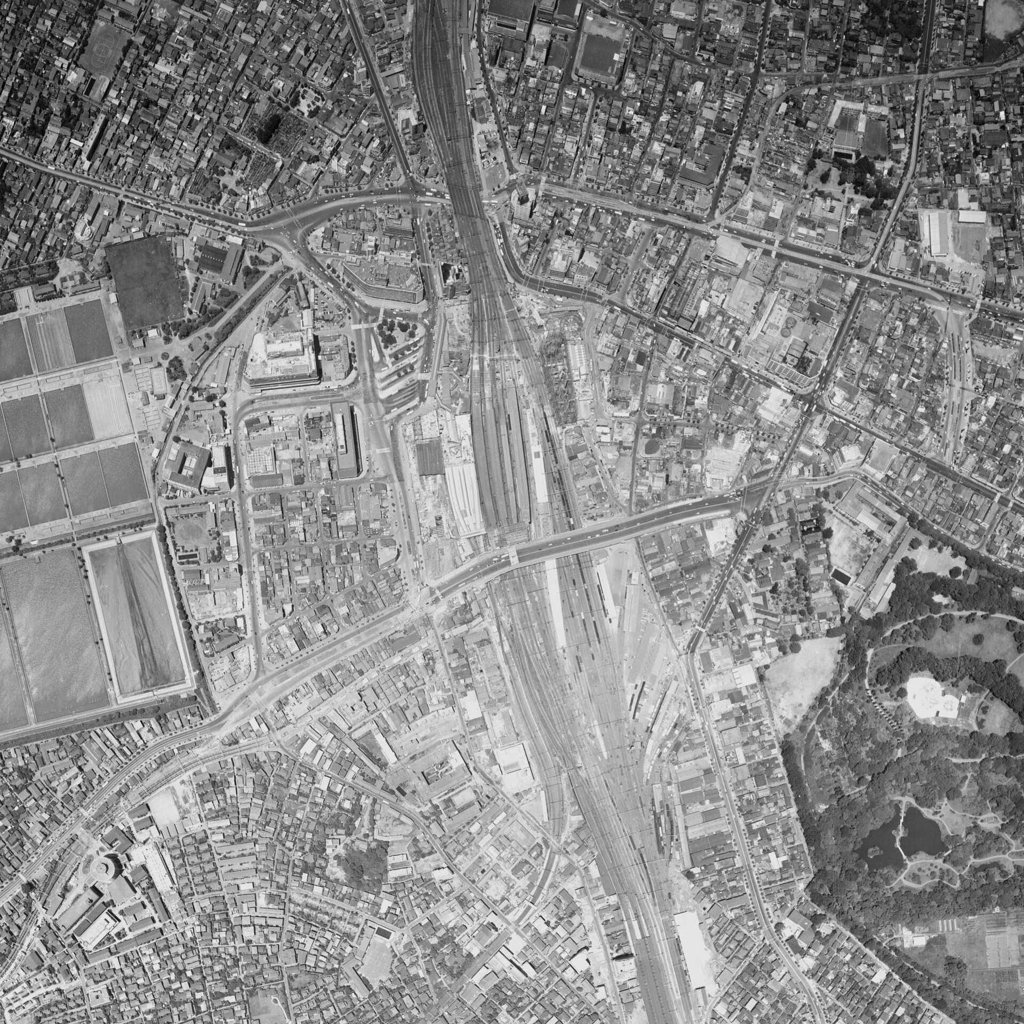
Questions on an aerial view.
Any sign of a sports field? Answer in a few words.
Yes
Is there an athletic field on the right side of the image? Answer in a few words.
No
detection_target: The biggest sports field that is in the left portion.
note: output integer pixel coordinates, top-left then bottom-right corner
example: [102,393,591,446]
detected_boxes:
[104,236,184,331]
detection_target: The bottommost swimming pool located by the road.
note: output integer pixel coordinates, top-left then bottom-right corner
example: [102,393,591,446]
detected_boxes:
[374,926,392,941]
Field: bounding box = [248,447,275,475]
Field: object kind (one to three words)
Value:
building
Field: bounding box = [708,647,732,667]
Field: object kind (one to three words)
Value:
building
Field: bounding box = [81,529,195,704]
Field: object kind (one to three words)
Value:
pond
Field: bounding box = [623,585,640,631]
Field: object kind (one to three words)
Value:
shed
